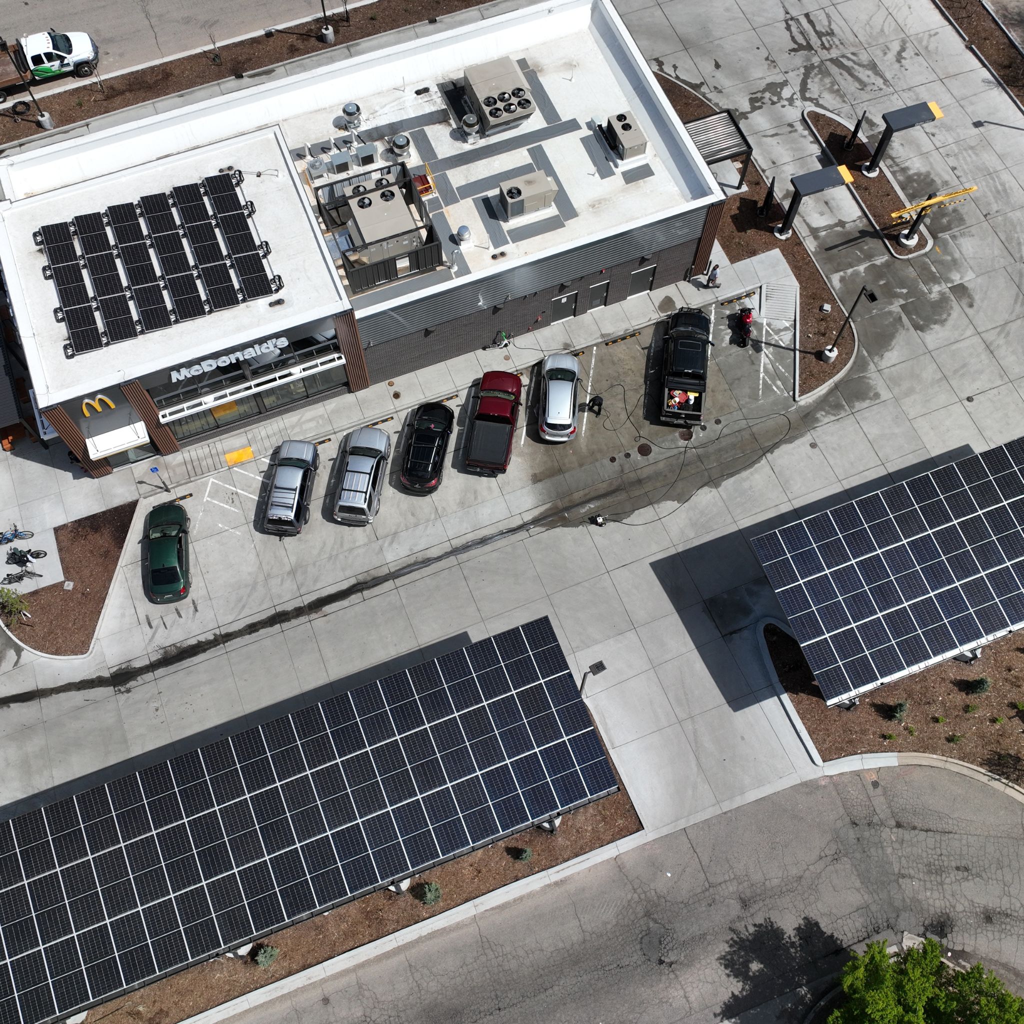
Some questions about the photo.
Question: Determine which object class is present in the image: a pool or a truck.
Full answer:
Looking from above, you can make out a truck.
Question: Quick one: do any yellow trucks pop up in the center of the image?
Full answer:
No, looking in the center of the image, there is no yellow truck.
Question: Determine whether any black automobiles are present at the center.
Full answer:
Yes, you'll find a black automobile at the center.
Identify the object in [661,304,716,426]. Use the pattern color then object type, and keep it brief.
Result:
black truck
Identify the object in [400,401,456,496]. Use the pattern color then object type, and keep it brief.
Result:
black car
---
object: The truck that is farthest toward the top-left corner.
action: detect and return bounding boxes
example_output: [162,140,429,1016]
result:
[0,28,101,90]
